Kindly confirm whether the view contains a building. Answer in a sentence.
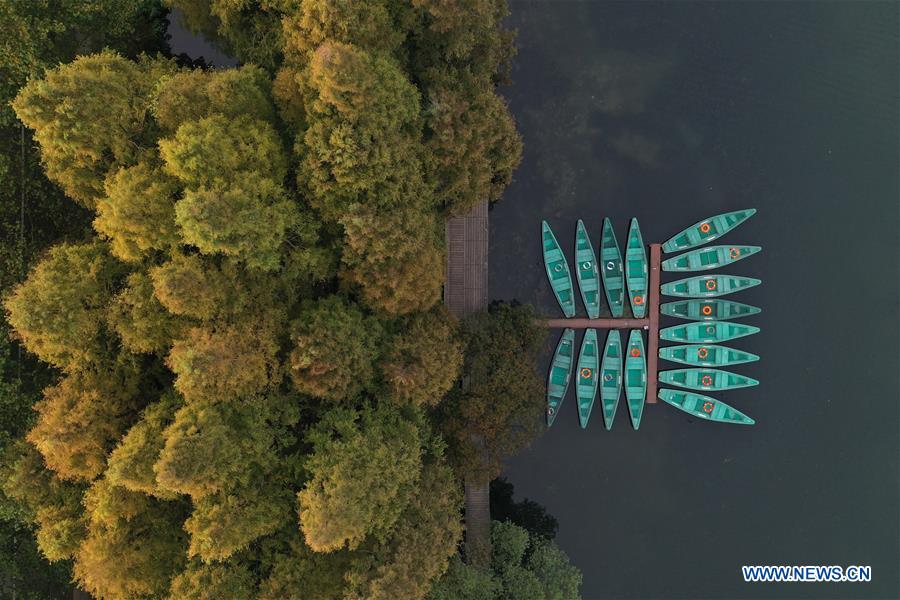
No, there's no building here.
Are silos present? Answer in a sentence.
No, there's no silo here.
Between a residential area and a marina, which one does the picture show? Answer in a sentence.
This image shows a marina.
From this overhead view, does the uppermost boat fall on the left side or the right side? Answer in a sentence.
You can find the uppermost boat on the right side of the picture.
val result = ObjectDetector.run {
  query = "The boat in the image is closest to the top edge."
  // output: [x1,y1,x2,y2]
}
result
[658,209,757,254]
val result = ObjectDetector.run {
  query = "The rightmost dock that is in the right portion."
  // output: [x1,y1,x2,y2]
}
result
[645,242,662,403]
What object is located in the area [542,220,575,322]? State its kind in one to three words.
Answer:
boat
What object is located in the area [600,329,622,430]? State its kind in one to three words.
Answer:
boat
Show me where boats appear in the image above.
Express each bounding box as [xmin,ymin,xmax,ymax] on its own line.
[656,369,759,391]
[576,220,599,323]
[657,344,760,366]
[656,388,756,423]
[658,209,757,254]
[658,322,761,343]
[660,275,762,297]
[600,218,624,318]
[626,218,648,320]
[657,299,761,321]
[660,245,762,271]
[576,329,599,430]
[600,329,622,430]
[547,328,575,428]
[625,326,647,430]
[542,220,575,322]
